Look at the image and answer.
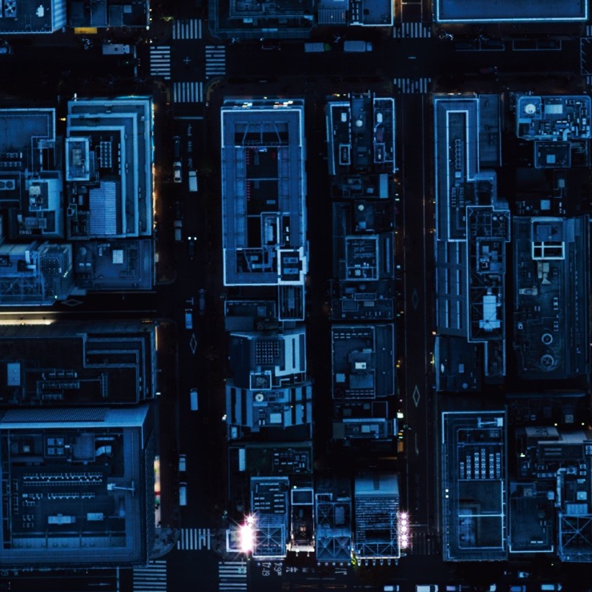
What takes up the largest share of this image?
buildings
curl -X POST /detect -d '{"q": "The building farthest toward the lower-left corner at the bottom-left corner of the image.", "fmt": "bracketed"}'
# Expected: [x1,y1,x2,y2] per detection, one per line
[0,405,155,569]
